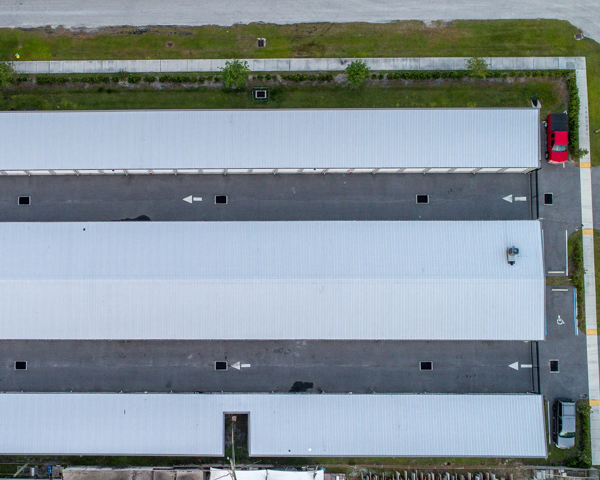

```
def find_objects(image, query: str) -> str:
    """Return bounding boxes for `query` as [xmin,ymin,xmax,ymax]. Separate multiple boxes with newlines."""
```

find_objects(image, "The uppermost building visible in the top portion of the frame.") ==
[0,107,541,178]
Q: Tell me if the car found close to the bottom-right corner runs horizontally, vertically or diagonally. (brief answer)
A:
vertically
